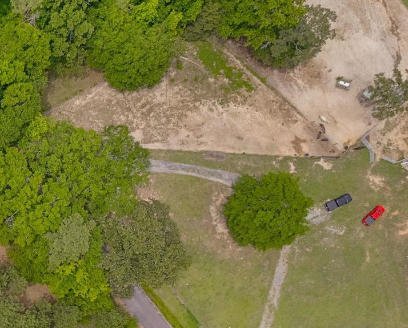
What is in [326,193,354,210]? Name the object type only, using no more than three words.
vehicle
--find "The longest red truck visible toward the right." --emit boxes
[362,203,387,226]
